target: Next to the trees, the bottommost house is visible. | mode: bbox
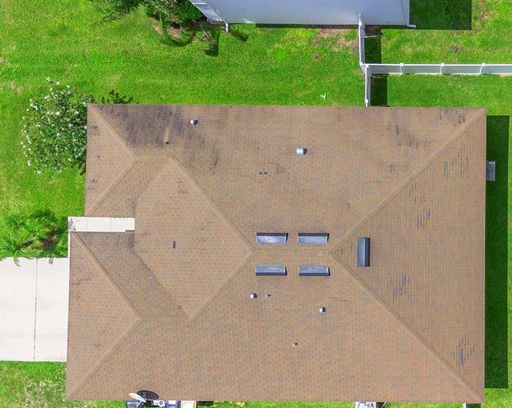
[67,103,494,403]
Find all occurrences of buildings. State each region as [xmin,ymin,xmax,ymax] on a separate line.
[188,0,416,33]
[67,103,494,403]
